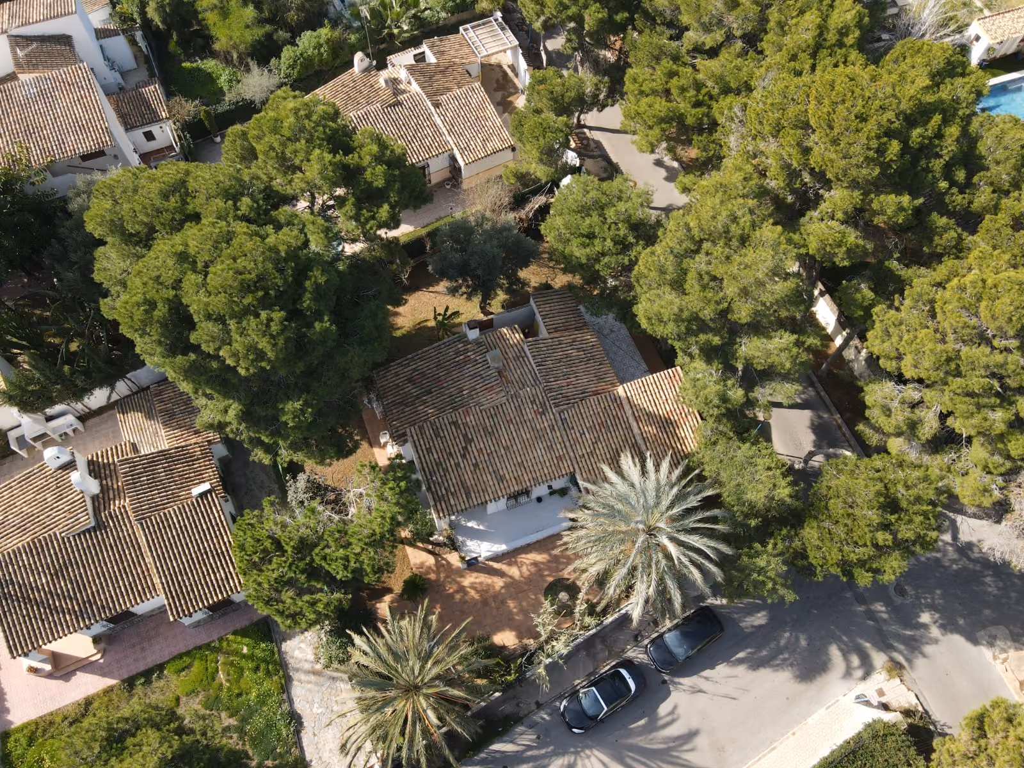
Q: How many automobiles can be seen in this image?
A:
2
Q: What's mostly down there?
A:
trees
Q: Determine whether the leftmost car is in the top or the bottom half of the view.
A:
bottom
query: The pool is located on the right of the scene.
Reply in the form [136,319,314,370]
[972,78,1024,128]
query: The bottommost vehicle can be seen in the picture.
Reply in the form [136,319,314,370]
[560,656,649,735]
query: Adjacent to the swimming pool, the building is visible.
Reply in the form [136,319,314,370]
[960,1,1024,69]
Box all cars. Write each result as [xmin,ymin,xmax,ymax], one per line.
[645,600,728,674]
[560,656,649,735]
